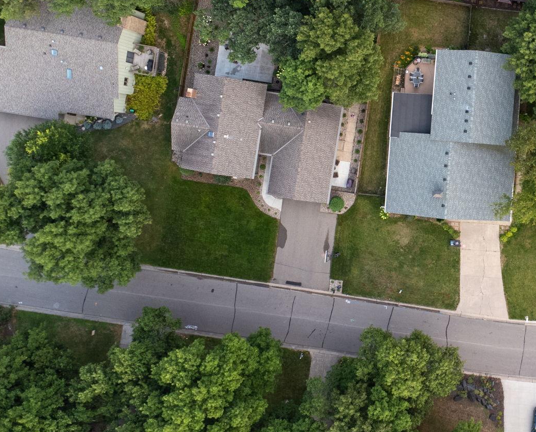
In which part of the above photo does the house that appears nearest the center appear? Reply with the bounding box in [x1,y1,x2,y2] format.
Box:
[172,74,344,204]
